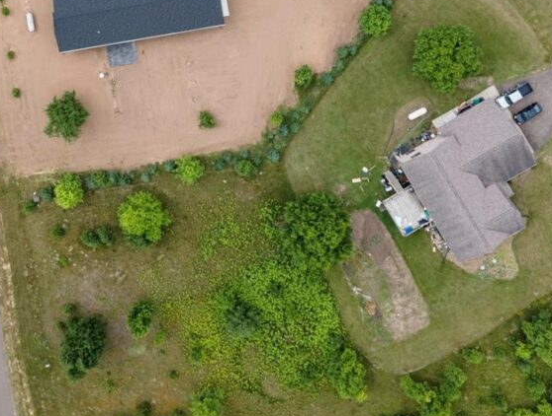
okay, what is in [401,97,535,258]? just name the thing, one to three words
house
